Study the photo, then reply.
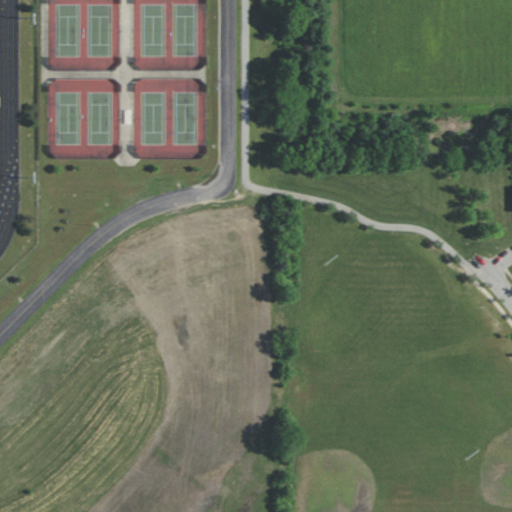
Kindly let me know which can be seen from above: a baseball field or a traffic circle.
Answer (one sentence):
I can see a baseball field in this picture.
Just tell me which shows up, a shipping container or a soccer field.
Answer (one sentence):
There is a soccer field in the scene.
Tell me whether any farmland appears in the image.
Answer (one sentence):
Yes, there is farmland in the image.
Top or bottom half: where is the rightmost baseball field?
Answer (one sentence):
It is in the bottom half that the rightmost baseball field appears.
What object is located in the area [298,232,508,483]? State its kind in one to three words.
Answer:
soccer field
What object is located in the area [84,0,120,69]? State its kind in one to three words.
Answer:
tennis court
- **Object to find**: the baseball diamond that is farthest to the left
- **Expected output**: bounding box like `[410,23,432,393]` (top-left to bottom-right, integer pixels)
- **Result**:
[296,449,375,512]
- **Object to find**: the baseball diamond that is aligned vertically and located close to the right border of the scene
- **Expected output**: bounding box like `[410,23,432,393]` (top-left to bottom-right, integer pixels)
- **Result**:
[481,427,512,508]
